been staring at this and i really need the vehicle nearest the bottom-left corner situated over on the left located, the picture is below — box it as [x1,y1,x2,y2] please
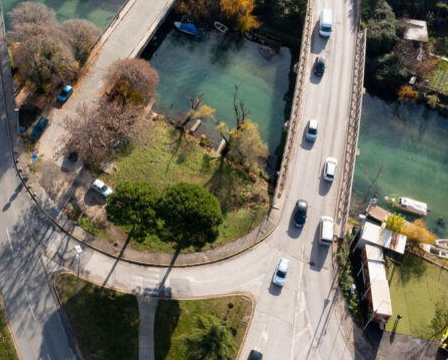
[90,176,114,198]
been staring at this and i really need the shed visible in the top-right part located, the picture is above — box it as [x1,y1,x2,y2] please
[395,16,428,52]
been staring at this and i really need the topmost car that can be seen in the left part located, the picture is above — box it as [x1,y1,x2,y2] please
[57,82,73,100]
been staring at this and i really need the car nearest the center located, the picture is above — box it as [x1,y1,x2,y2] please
[293,199,308,225]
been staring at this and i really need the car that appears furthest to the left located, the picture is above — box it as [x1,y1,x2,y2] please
[29,116,48,137]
